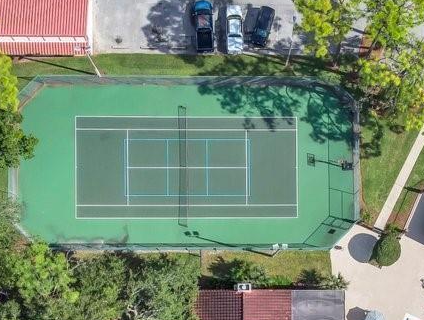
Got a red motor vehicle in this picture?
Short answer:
No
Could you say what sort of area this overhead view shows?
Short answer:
sports ground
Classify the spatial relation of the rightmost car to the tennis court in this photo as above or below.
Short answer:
above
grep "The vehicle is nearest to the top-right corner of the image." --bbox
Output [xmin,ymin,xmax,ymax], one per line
[250,1,276,46]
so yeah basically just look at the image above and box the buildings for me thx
[0,0,100,68]
[191,282,346,320]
